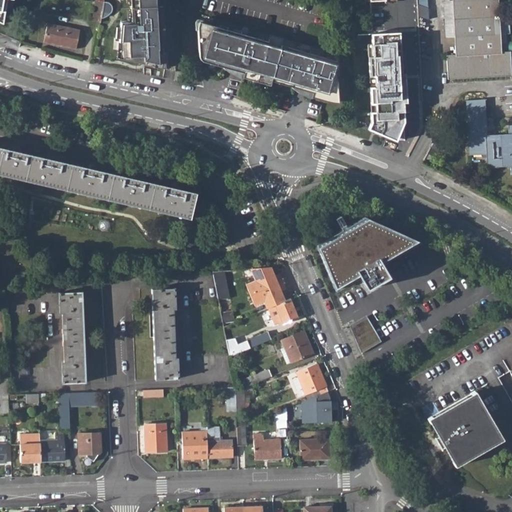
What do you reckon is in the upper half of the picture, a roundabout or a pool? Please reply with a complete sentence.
Looking in the upper half of the picture, you will find a roundabout.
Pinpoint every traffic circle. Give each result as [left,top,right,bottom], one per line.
[249,113,317,179]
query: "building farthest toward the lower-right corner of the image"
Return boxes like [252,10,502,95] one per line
[428,392,505,468]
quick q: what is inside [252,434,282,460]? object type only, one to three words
house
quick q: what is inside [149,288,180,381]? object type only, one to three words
building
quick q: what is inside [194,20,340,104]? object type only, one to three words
building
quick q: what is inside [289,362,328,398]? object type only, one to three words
house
